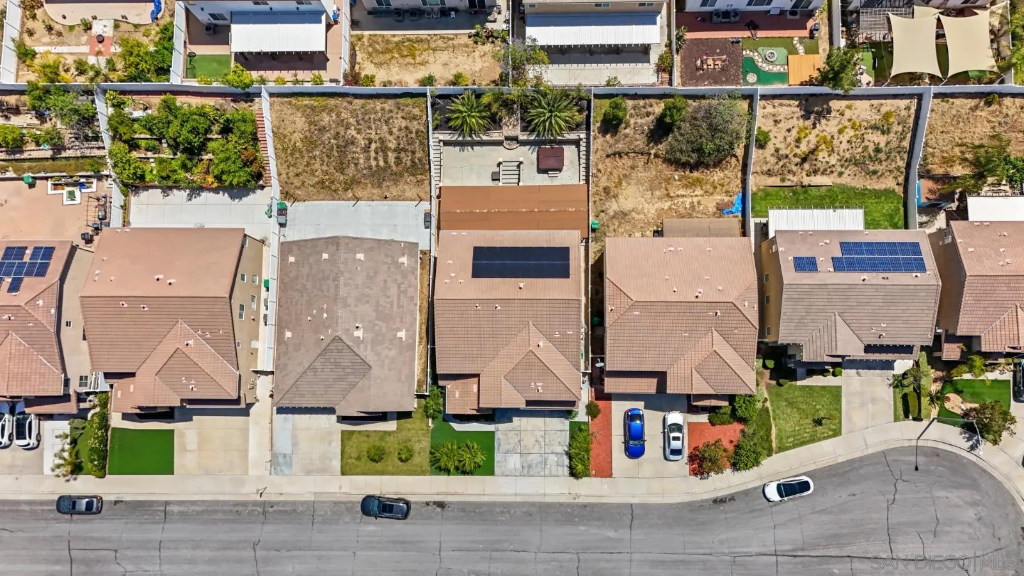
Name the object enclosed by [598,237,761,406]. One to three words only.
house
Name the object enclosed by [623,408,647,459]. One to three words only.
car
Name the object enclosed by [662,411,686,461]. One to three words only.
car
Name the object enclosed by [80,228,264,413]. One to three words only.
house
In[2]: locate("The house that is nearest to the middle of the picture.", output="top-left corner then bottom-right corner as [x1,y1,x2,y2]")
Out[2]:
[431,230,582,415]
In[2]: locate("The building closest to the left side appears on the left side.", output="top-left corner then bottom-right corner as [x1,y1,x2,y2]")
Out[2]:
[0,241,99,413]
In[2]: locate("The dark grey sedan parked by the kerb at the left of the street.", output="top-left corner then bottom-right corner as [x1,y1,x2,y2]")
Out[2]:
[57,493,108,517]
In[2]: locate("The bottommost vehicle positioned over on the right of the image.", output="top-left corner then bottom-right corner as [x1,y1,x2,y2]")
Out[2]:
[761,474,814,503]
